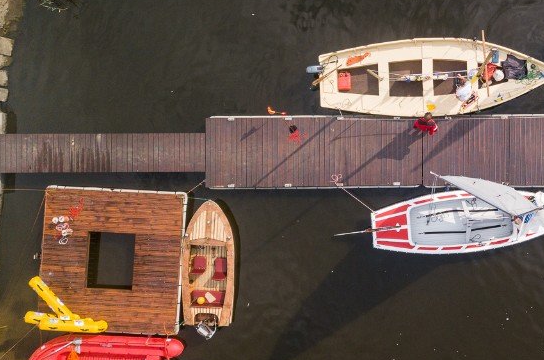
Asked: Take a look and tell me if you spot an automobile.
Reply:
No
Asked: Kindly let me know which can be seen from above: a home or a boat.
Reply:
boat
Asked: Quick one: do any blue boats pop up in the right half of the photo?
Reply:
No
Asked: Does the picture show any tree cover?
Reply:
No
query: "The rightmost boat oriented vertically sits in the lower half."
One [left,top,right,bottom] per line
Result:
[183,200,237,339]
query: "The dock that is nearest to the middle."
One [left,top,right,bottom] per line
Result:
[206,114,422,191]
